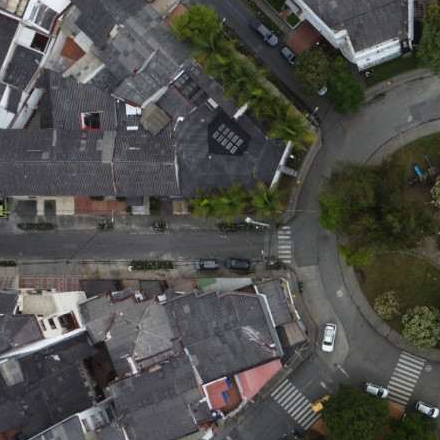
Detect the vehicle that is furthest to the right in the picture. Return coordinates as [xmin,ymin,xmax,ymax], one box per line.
[414,400,439,418]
